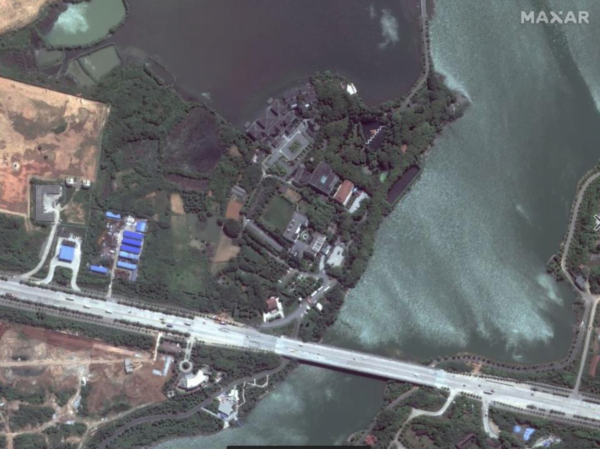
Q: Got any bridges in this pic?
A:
Yes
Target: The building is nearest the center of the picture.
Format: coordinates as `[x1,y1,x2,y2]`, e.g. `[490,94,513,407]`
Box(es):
[283,212,308,243]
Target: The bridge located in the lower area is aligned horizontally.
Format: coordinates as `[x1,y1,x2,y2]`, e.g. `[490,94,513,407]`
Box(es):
[270,335,446,389]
